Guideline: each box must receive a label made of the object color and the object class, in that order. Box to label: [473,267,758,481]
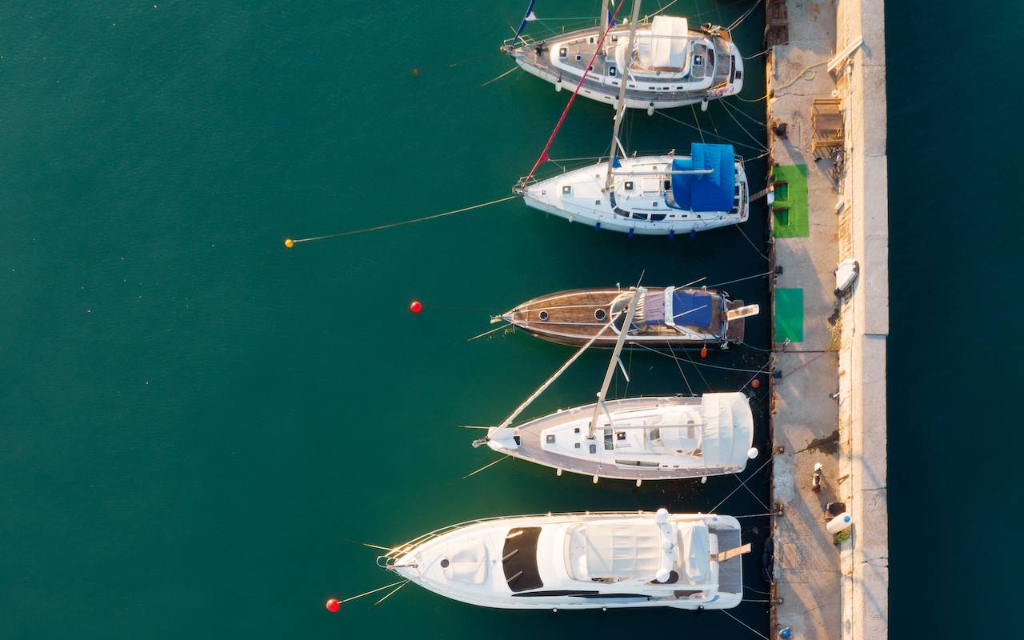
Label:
white boat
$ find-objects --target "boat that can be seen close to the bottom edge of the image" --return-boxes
[377,509,754,611]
